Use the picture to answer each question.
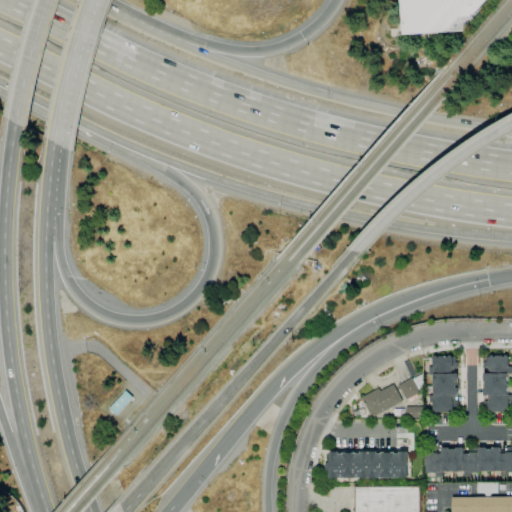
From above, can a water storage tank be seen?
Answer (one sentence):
No, I find no water storage tank anywhere in the image.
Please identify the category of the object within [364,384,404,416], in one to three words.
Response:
house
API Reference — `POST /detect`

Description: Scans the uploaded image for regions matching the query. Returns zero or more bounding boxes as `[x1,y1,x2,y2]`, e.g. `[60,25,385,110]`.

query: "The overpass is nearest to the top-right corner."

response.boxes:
[277,86,448,272]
